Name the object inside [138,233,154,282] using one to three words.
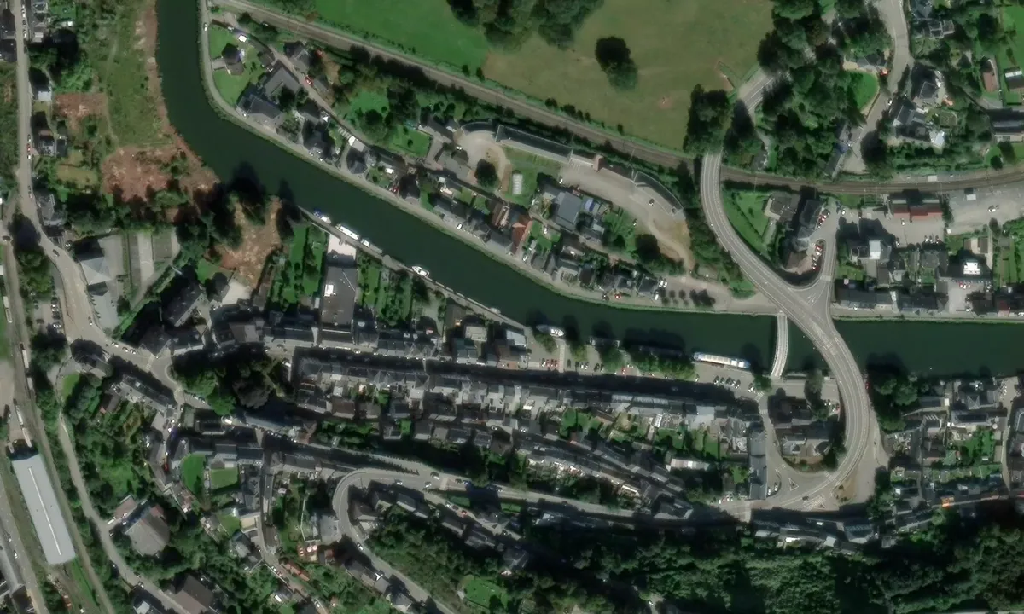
tennis court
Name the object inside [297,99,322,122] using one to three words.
house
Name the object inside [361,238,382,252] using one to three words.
vessel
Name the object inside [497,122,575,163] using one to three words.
building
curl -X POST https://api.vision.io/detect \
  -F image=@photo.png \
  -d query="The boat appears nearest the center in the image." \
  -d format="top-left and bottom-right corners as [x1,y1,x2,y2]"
[537,325,565,338]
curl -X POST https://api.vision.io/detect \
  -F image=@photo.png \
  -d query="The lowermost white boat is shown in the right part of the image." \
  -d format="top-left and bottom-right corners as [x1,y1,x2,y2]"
[693,353,750,369]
